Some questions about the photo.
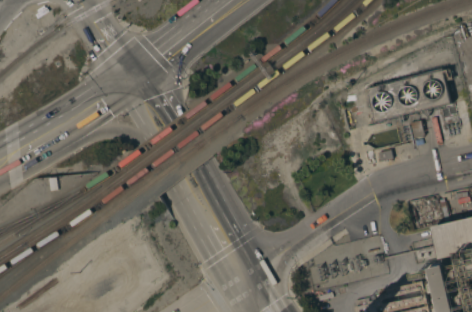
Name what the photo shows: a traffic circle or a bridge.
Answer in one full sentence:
There is a bridge in the scene.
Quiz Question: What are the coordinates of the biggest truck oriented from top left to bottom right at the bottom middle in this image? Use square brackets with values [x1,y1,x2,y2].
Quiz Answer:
[253,246,279,286]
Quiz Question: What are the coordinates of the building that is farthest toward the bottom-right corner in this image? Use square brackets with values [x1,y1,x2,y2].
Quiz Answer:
[425,264,457,312]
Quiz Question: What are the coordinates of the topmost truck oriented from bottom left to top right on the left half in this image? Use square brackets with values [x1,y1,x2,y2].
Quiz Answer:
[168,0,202,24]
